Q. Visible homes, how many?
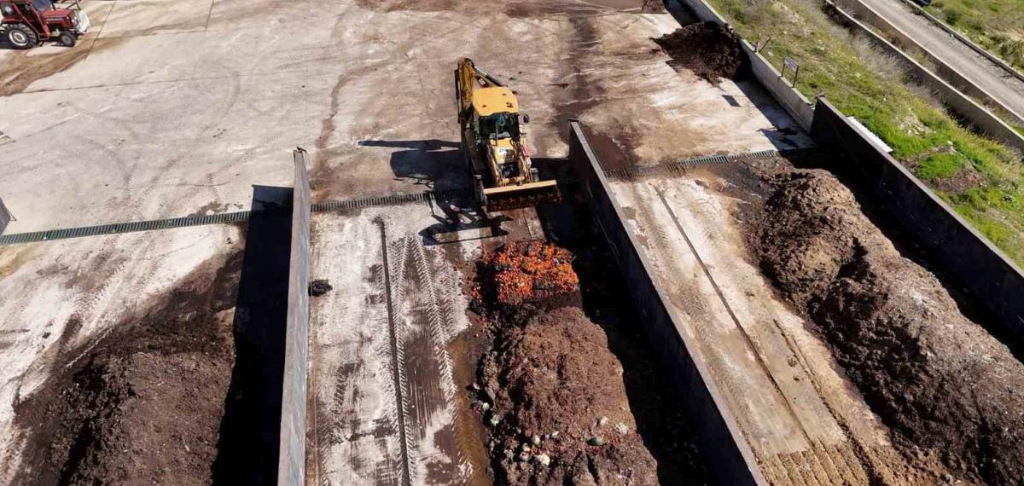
0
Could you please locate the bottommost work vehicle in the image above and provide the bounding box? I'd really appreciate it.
[451,56,562,211]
